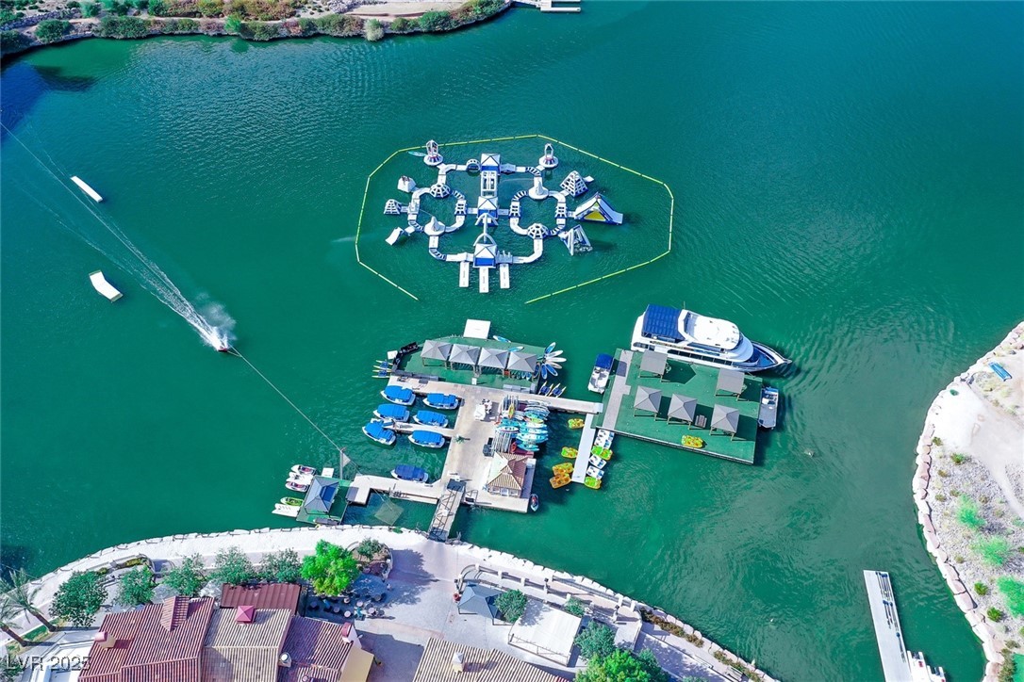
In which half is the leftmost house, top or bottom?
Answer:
bottom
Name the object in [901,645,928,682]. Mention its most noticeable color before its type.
white boat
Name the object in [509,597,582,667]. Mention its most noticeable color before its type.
white tent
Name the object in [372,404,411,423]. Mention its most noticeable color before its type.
blue boat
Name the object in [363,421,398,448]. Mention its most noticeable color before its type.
blue boat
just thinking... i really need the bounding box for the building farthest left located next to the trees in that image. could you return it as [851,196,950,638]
[20,639,92,682]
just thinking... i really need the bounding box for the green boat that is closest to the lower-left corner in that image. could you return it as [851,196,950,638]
[279,495,305,508]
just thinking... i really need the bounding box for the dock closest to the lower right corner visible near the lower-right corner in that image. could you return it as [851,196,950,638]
[862,571,909,682]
